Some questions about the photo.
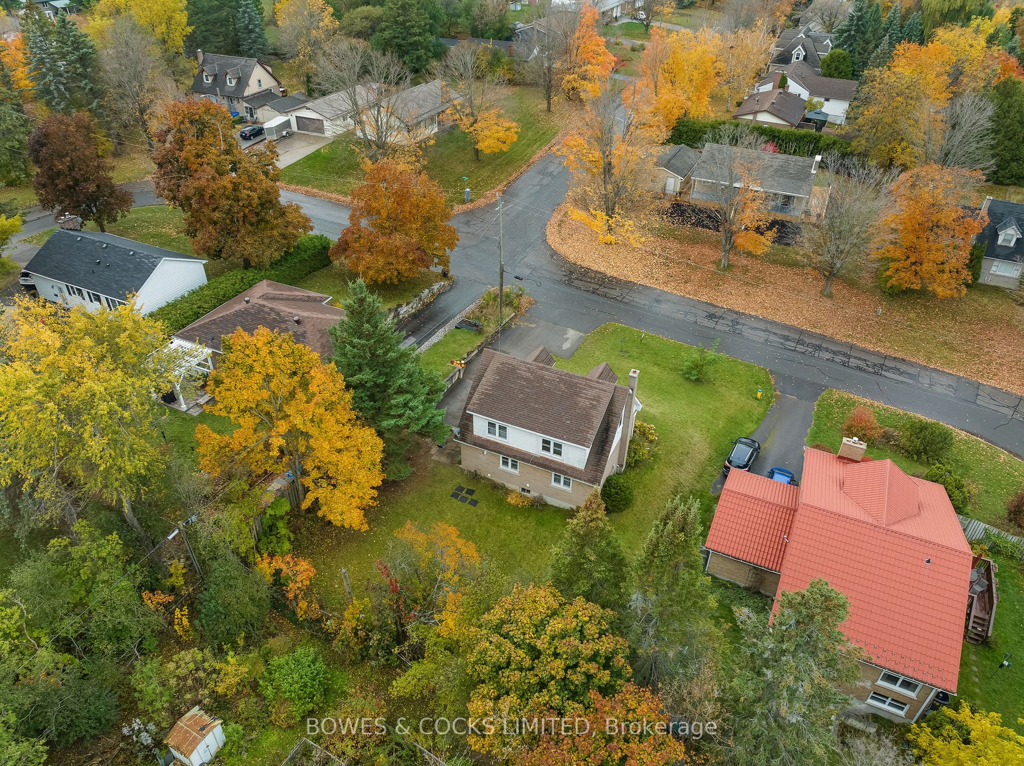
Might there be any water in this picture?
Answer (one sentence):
No, there's no water in this view.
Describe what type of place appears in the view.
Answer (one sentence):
This looks like a residential area.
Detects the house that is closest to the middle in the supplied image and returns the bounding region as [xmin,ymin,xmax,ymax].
[449,342,646,510]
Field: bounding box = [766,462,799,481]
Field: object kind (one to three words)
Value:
car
